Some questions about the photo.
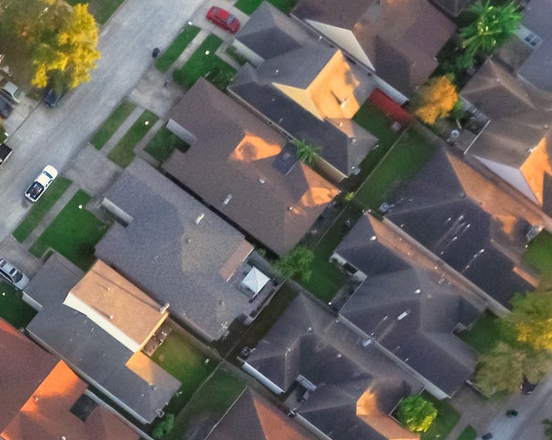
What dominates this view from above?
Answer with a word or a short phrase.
buildings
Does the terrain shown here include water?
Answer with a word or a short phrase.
No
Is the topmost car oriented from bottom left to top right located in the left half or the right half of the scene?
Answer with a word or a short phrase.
left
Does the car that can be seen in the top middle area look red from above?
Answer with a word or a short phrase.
Yes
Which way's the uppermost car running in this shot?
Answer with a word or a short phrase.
on a diagonal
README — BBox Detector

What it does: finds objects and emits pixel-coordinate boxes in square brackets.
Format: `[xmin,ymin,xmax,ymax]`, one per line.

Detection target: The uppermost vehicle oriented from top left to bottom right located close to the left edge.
[0,73,31,108]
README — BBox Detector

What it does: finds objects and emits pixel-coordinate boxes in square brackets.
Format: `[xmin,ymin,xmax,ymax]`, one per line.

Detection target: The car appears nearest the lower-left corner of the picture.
[0,256,28,290]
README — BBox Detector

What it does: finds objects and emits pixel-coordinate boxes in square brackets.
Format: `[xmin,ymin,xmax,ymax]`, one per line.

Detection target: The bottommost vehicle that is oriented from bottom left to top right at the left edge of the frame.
[19,159,62,208]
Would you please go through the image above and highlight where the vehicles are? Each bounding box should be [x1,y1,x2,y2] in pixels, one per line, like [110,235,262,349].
[0,256,28,290]
[0,95,22,124]
[0,73,31,108]
[203,2,244,39]
[0,137,16,170]
[35,77,71,116]
[19,159,62,208]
